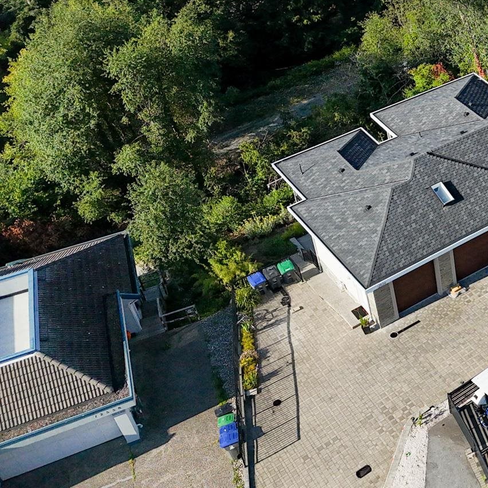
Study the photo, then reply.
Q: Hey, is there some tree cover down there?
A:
Yes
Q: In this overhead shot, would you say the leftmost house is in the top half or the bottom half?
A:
bottom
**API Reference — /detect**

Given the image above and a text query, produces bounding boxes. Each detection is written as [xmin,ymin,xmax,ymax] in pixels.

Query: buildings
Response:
[269,71,488,329]
[0,239,157,488]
